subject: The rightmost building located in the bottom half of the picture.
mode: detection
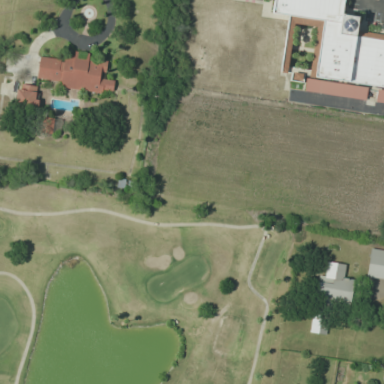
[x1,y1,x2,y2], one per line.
[368,250,384,279]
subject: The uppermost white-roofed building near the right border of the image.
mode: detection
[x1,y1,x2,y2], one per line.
[272,0,384,89]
